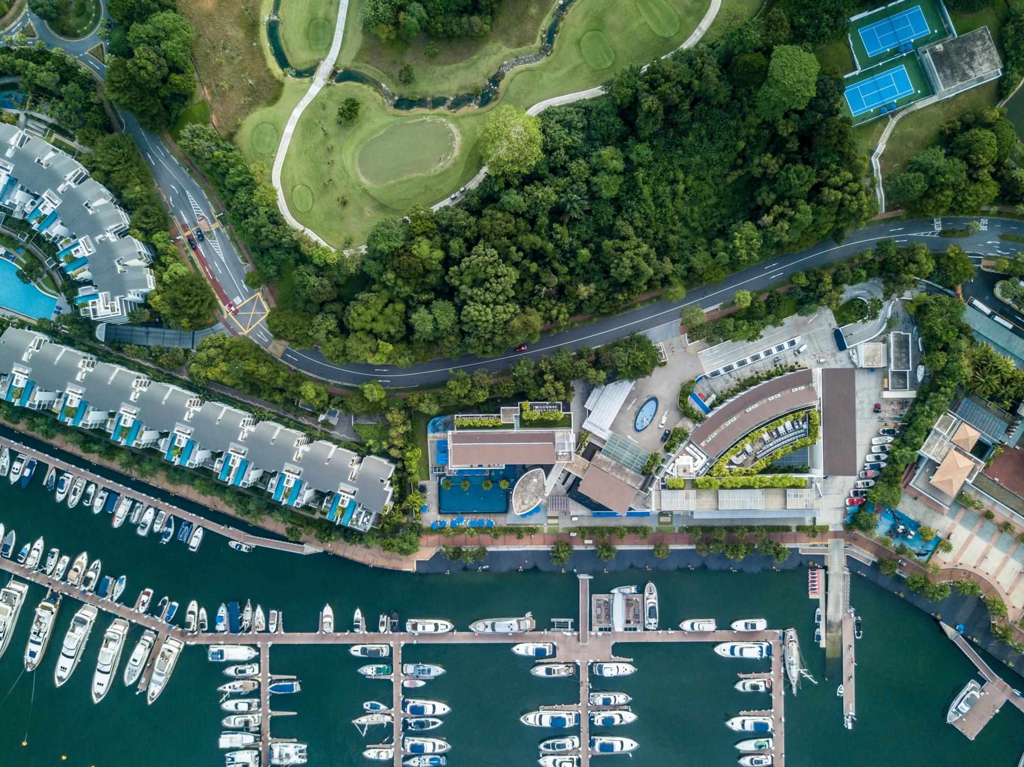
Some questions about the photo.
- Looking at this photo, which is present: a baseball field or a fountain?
fountain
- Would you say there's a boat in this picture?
Yes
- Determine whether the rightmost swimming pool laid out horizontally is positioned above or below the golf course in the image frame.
below it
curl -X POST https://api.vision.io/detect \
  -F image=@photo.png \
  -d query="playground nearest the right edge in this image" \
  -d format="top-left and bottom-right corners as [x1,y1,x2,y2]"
[866,502,941,563]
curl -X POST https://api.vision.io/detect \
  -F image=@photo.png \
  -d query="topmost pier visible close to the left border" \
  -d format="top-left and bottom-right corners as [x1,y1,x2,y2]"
[0,437,255,547]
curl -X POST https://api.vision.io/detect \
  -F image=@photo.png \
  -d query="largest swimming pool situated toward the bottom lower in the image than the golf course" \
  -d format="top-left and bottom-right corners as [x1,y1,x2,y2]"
[438,465,543,514]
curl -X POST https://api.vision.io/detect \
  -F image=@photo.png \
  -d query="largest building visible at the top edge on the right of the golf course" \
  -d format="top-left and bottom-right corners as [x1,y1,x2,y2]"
[915,26,1002,101]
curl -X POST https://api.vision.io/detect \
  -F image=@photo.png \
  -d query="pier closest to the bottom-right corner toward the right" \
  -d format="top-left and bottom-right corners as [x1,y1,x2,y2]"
[952,670,1024,740]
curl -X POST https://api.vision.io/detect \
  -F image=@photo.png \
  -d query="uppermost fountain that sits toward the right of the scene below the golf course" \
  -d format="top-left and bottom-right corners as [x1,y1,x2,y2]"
[634,397,658,432]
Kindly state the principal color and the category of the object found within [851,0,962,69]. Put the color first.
blue tennis court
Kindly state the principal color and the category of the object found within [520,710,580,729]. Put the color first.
white boat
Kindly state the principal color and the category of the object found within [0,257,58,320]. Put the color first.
blue swimming pool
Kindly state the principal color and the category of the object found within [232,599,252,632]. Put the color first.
white boat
